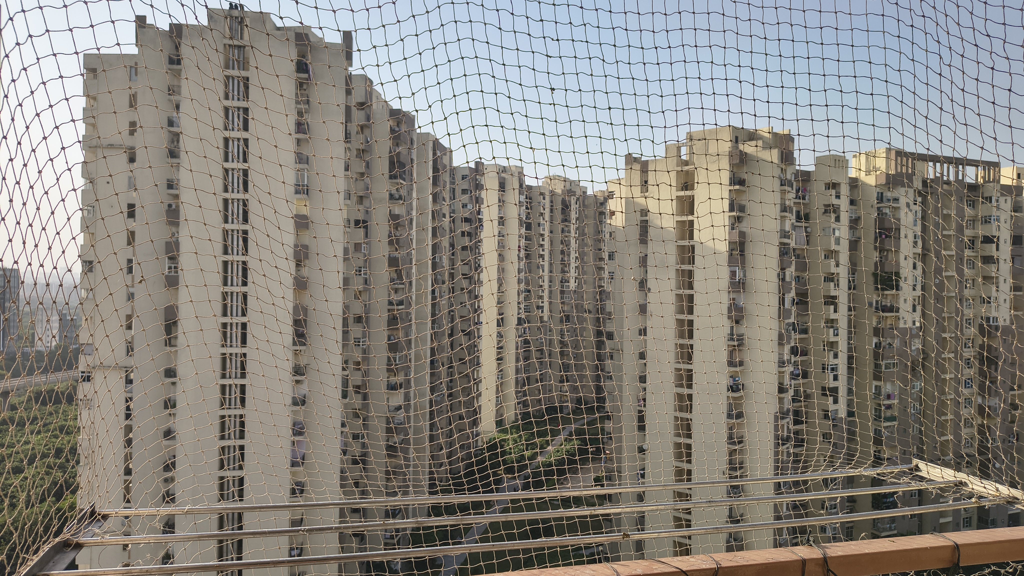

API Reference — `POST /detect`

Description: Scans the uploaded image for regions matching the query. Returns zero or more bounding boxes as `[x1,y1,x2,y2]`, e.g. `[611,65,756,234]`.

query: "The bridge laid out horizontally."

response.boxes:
[0,369,79,395]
